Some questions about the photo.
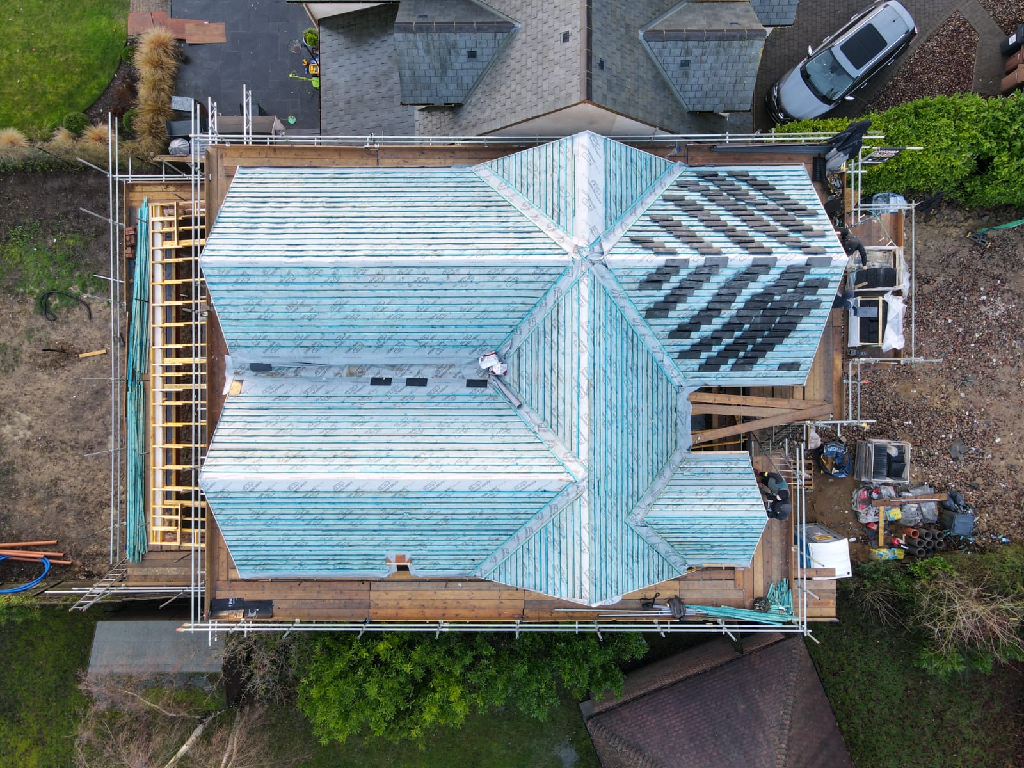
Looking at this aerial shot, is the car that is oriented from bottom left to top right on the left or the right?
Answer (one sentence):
The car that is oriented from bottom left to top right is on the right side of the image.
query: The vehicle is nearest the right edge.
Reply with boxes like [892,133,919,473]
[759,0,921,131]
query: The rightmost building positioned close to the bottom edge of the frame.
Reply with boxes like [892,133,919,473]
[584,624,857,768]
